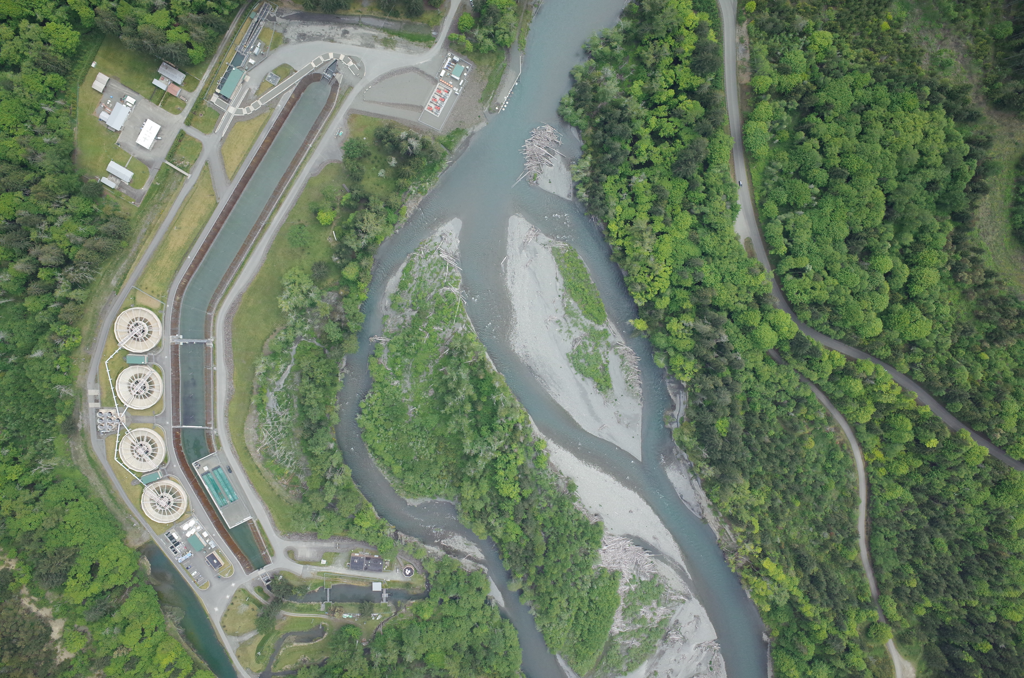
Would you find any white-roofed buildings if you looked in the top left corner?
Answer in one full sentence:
Yes, a white-roofed building shows up in the top left corner.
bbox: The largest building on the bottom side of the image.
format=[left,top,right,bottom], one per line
[346,554,384,573]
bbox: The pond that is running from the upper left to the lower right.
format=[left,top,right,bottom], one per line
[136,539,238,678]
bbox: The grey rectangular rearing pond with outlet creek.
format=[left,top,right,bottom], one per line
[266,575,430,634]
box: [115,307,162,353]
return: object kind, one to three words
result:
storage tank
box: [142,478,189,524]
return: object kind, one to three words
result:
storage tank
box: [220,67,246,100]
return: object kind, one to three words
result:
building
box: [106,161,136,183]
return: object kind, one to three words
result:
house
